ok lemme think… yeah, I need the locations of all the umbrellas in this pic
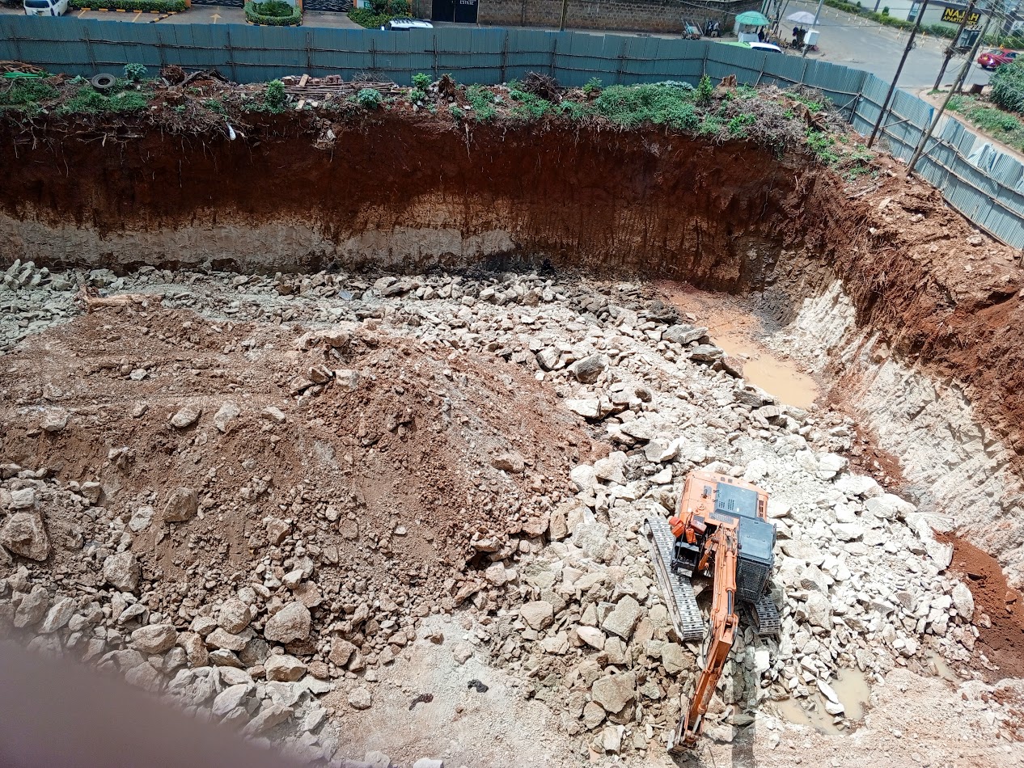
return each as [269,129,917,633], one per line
[730,10,772,39]
[782,12,821,46]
